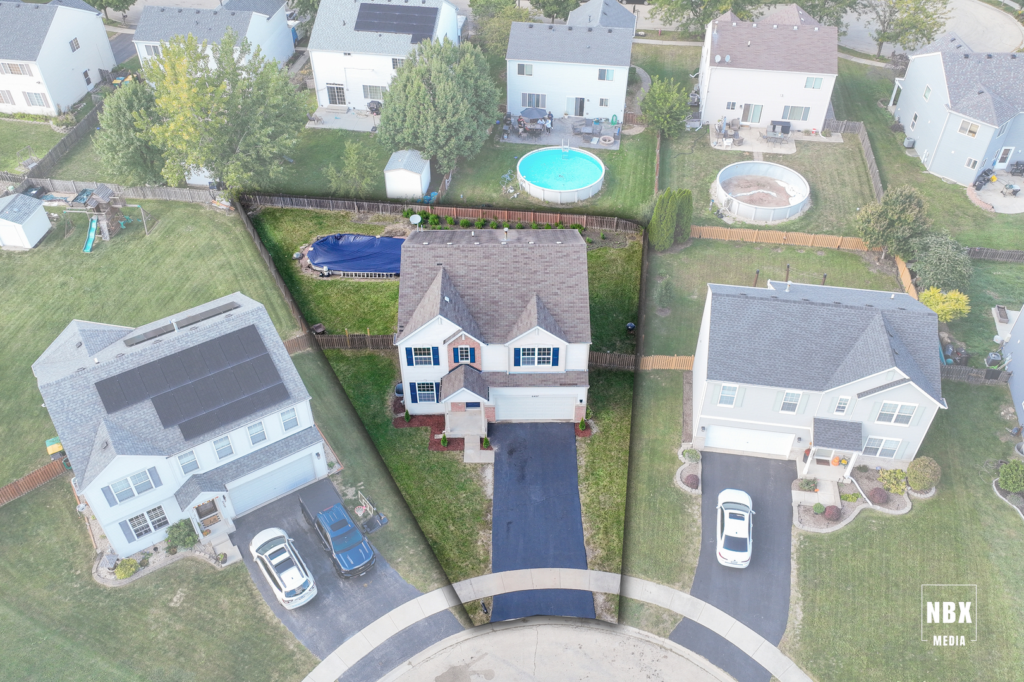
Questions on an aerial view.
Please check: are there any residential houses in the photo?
Yes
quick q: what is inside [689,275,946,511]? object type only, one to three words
house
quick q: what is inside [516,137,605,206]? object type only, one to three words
swimming pool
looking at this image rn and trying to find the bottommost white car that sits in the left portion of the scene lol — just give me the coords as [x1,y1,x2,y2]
[256,526,318,613]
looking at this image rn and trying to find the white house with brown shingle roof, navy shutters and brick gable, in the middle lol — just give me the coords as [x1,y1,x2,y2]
[395,214,593,449]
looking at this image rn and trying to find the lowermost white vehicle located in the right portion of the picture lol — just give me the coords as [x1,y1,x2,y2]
[715,488,756,569]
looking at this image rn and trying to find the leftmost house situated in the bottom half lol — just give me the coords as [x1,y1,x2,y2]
[32,288,341,564]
